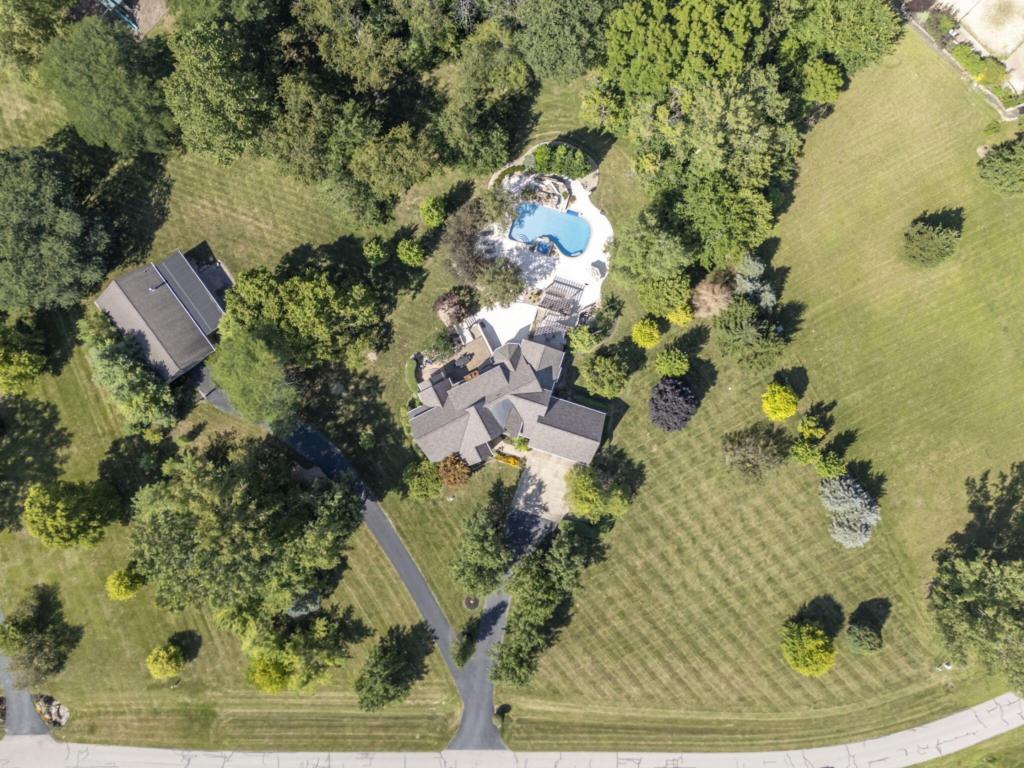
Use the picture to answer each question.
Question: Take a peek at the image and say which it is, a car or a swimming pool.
swimming pool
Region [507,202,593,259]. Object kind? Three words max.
swimming pool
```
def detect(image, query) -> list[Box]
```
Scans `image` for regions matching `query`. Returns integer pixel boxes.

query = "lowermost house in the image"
[408,339,606,467]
